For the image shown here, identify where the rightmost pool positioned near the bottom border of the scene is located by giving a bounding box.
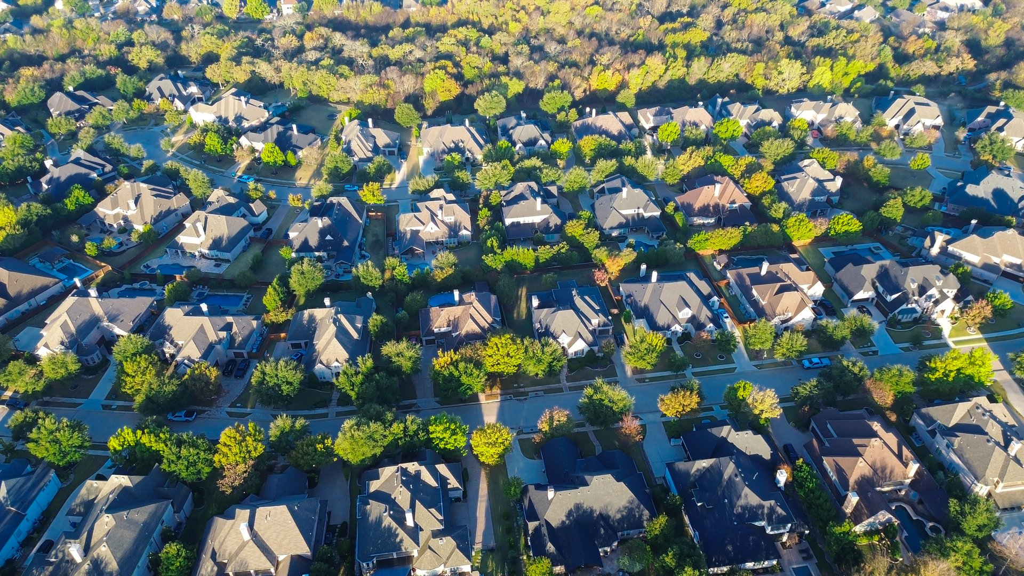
[893,506,950,552]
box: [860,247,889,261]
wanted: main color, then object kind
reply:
blue swimming pool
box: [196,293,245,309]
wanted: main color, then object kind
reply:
blue swimming pool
